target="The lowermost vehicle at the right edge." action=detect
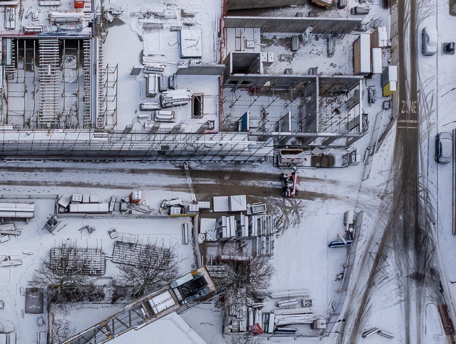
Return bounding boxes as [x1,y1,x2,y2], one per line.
[433,134,453,165]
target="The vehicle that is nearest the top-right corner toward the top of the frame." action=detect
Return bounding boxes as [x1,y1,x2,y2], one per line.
[418,28,437,59]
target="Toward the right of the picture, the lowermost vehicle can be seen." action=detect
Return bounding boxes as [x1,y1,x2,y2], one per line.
[278,166,299,201]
